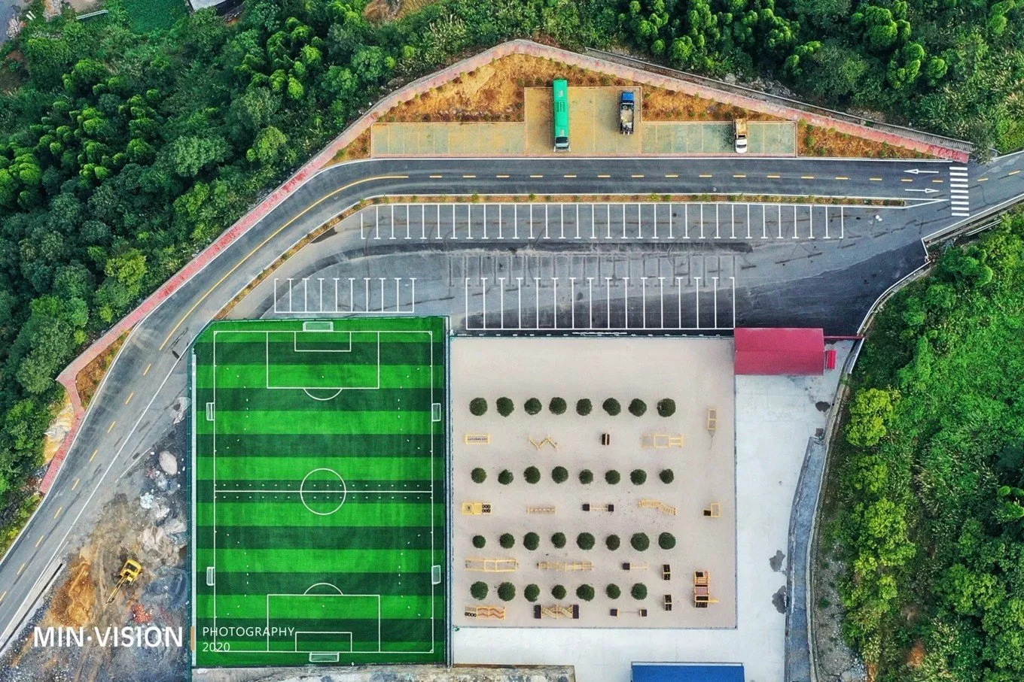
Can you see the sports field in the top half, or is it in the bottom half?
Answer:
bottom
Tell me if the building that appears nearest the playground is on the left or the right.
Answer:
right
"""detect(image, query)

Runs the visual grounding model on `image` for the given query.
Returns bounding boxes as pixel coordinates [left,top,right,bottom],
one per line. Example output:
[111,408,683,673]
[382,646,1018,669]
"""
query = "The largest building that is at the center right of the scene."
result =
[734,327,827,375]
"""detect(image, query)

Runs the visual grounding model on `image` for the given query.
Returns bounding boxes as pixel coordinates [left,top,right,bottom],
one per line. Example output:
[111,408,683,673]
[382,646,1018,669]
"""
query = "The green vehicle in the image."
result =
[554,81,572,151]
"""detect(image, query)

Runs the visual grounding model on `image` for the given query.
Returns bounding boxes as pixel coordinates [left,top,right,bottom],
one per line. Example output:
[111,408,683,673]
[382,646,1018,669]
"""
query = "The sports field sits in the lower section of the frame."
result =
[196,317,446,667]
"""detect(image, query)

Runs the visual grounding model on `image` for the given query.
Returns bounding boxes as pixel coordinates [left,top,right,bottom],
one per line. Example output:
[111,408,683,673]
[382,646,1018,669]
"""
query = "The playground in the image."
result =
[452,338,737,630]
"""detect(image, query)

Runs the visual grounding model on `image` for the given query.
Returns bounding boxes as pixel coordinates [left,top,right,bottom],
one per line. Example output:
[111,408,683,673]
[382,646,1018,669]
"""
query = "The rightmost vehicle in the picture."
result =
[736,116,750,152]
